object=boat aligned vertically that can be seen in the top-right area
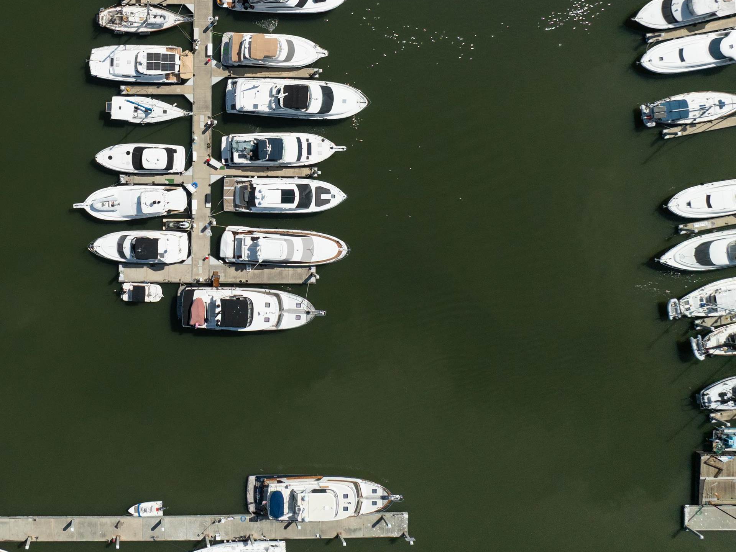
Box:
[641,102,654,126]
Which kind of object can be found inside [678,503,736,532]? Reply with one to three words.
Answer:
pier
